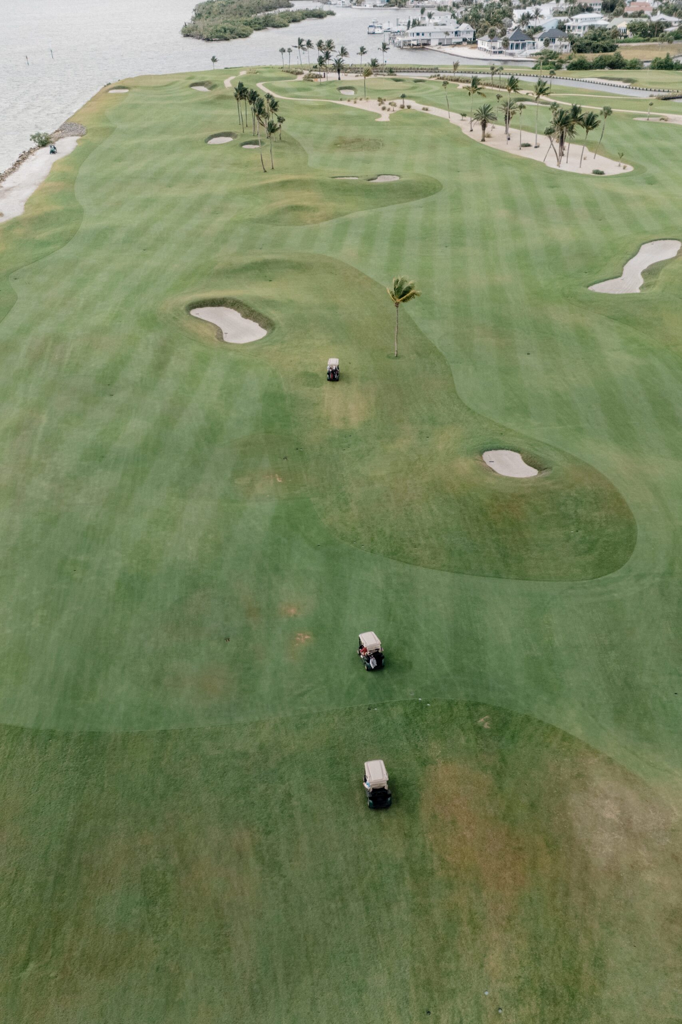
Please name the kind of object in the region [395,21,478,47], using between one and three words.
house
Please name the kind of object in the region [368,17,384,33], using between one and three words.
boat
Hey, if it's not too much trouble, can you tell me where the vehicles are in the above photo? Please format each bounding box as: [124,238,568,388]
[366,761,394,810]
[327,358,339,380]
[47,144,57,154]
[359,631,389,672]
